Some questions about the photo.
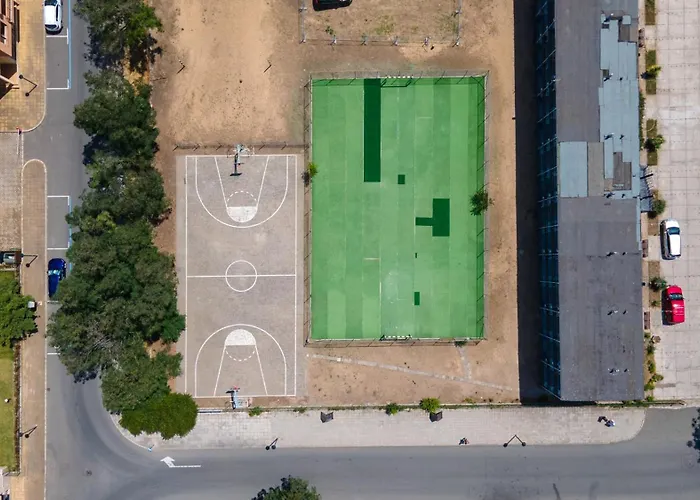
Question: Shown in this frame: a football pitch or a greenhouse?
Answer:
football pitch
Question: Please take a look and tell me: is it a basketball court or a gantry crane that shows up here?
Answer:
basketball court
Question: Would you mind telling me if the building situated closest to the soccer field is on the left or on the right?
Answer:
right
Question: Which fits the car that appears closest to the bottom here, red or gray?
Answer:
red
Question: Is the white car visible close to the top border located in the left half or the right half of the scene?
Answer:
left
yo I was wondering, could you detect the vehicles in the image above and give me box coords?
[45,259,66,298]
[659,221,682,259]
[314,0,353,8]
[660,286,682,324]
[42,0,64,31]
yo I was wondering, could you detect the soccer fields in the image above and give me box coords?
[308,75,488,342]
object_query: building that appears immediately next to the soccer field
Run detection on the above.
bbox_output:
[534,0,657,402]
